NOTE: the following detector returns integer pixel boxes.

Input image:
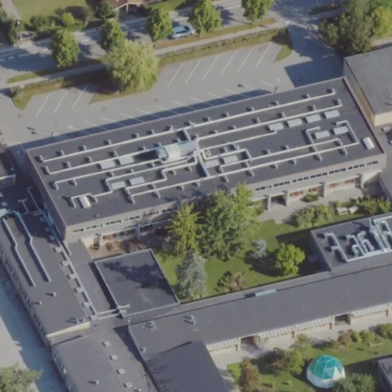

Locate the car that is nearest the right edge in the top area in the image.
[169,22,195,37]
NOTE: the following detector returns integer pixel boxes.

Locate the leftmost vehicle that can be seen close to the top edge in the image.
[128,3,142,18]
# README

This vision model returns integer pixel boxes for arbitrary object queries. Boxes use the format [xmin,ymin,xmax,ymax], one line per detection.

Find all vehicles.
[169,22,195,37]
[128,3,142,18]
